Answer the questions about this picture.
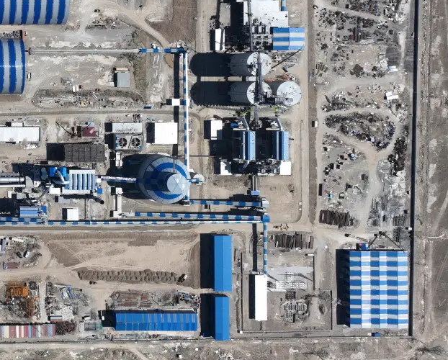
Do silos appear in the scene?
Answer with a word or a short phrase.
Yes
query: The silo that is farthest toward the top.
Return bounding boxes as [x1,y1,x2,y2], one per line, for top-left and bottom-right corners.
[229,52,271,78]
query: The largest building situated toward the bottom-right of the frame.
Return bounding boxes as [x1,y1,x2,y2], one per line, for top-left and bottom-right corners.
[344,250,407,328]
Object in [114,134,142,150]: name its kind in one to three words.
cooling tower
